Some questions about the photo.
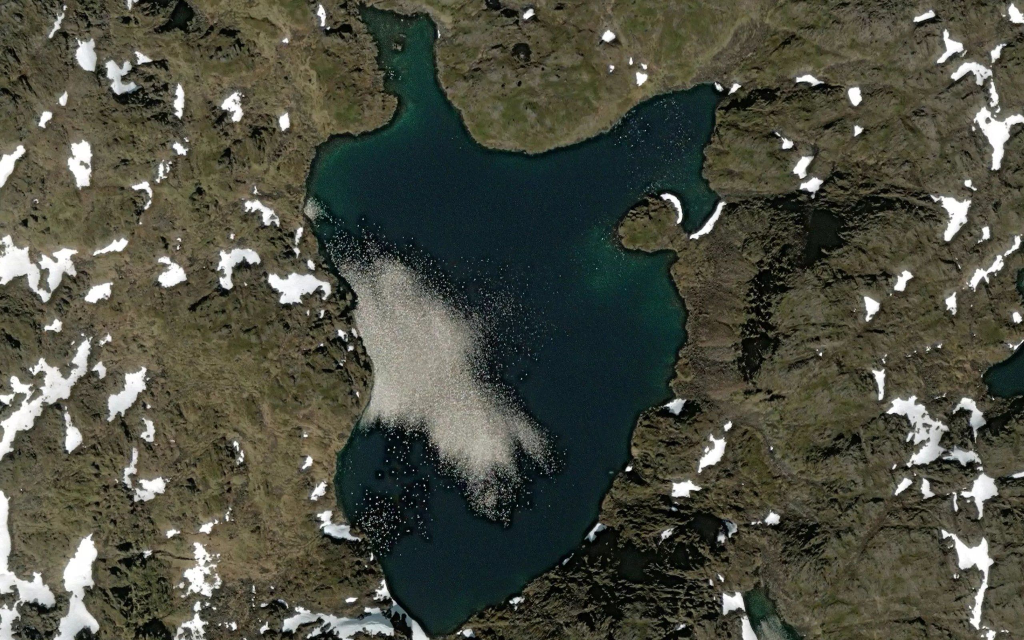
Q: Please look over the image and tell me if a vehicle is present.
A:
No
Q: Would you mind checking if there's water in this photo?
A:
Yes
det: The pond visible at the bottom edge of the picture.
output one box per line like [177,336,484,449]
[744,586,804,640]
